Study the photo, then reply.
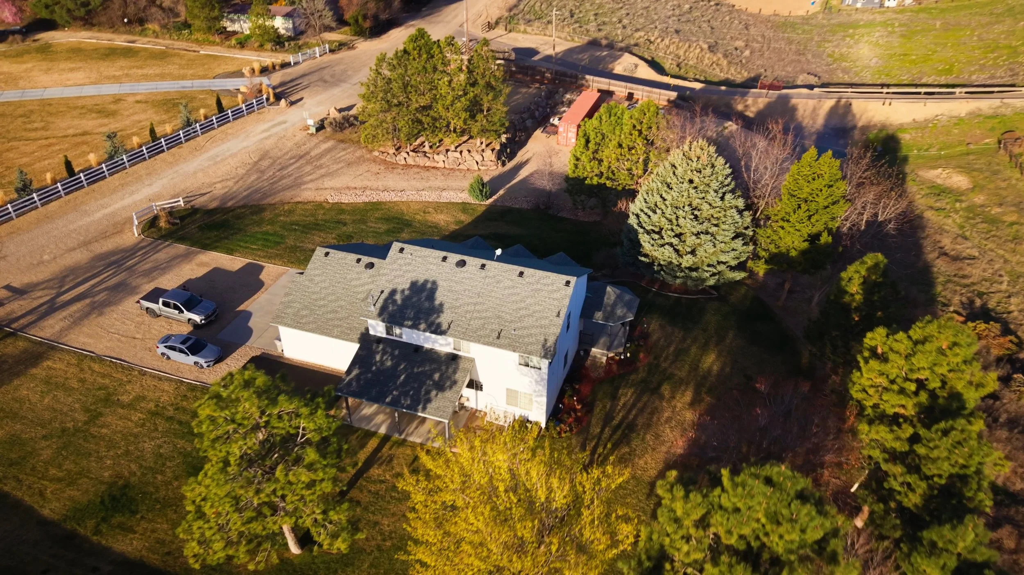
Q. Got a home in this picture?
Yes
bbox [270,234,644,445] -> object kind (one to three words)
house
